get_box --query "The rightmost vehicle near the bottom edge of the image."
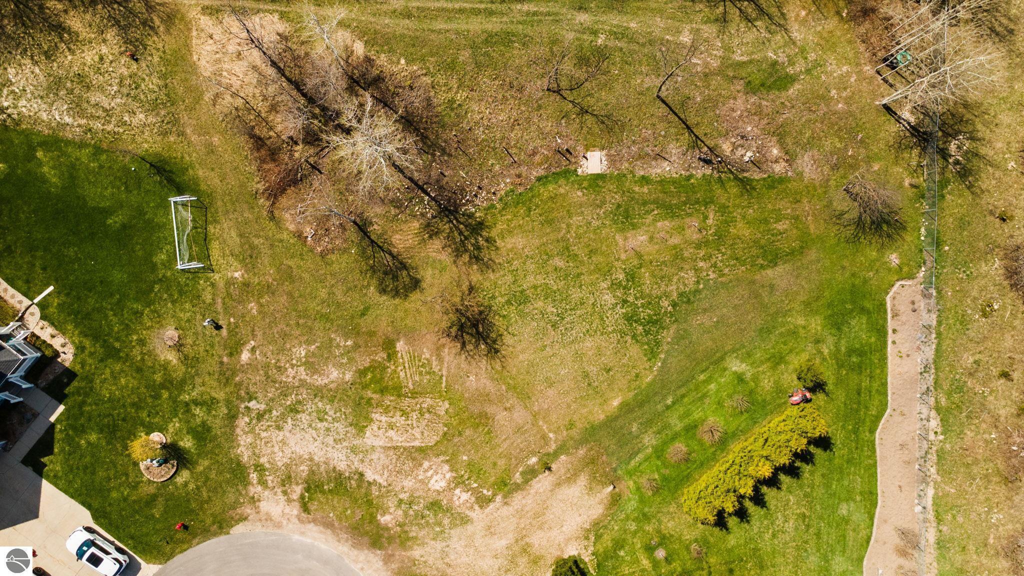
[64,524,131,576]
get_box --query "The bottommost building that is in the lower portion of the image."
[0,321,44,403]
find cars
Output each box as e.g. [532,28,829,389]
[16,567,45,576]
[64,524,131,576]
